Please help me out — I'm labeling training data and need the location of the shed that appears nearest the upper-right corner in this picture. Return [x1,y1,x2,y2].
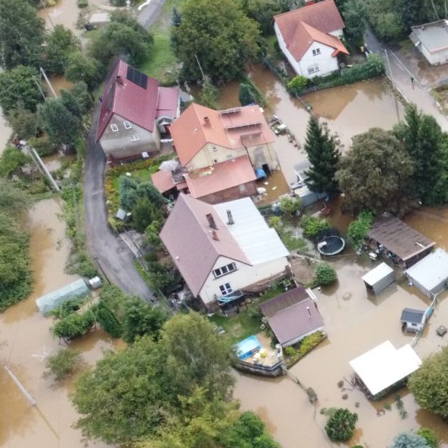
[411,19,448,66]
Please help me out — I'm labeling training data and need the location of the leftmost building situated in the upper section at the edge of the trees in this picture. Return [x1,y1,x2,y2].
[95,61,161,160]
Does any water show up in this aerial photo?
Yes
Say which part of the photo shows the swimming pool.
bottom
